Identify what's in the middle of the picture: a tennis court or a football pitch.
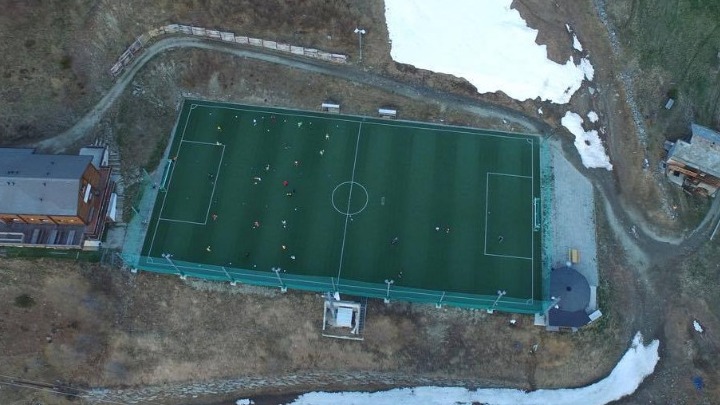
football pitch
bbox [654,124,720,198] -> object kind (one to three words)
barn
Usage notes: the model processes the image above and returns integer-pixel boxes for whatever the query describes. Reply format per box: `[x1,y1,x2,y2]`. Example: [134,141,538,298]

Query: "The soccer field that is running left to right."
[136,97,542,312]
